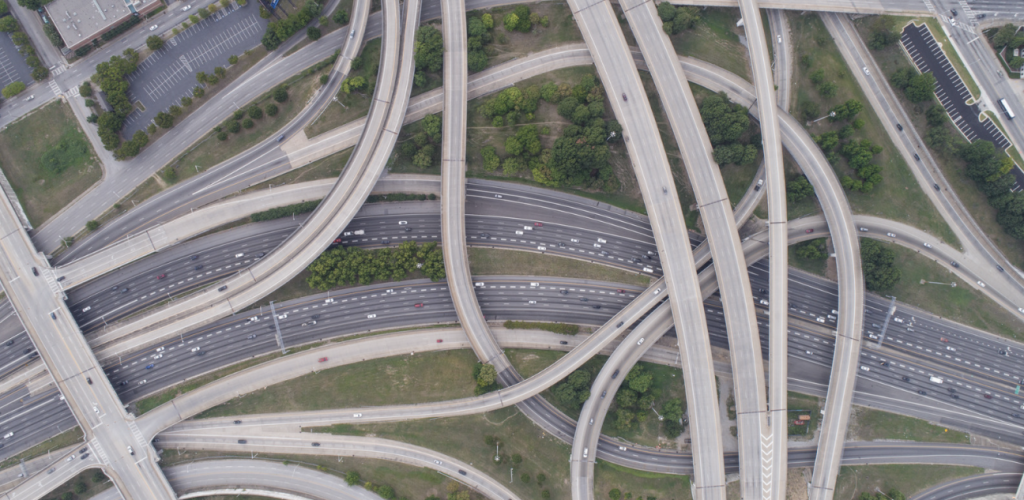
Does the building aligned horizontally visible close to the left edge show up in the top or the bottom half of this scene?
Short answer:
top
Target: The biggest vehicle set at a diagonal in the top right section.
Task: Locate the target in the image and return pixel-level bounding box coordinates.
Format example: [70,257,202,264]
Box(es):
[998,98,1015,118]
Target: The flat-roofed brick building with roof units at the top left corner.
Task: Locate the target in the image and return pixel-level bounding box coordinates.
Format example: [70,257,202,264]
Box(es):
[42,0,170,56]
